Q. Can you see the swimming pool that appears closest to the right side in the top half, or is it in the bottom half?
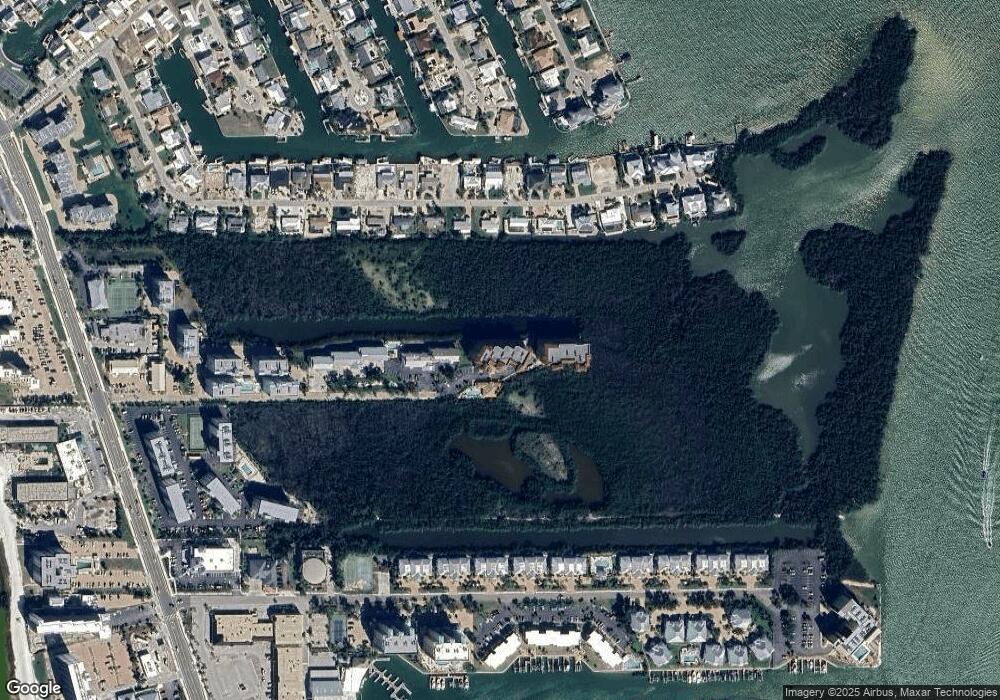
bottom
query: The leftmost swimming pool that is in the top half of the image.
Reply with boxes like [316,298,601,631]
[83,154,111,183]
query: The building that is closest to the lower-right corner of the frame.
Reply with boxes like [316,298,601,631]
[829,587,879,653]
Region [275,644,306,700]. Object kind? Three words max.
building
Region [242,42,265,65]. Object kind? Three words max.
house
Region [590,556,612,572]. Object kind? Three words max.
swimming pool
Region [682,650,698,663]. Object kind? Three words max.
swimming pool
